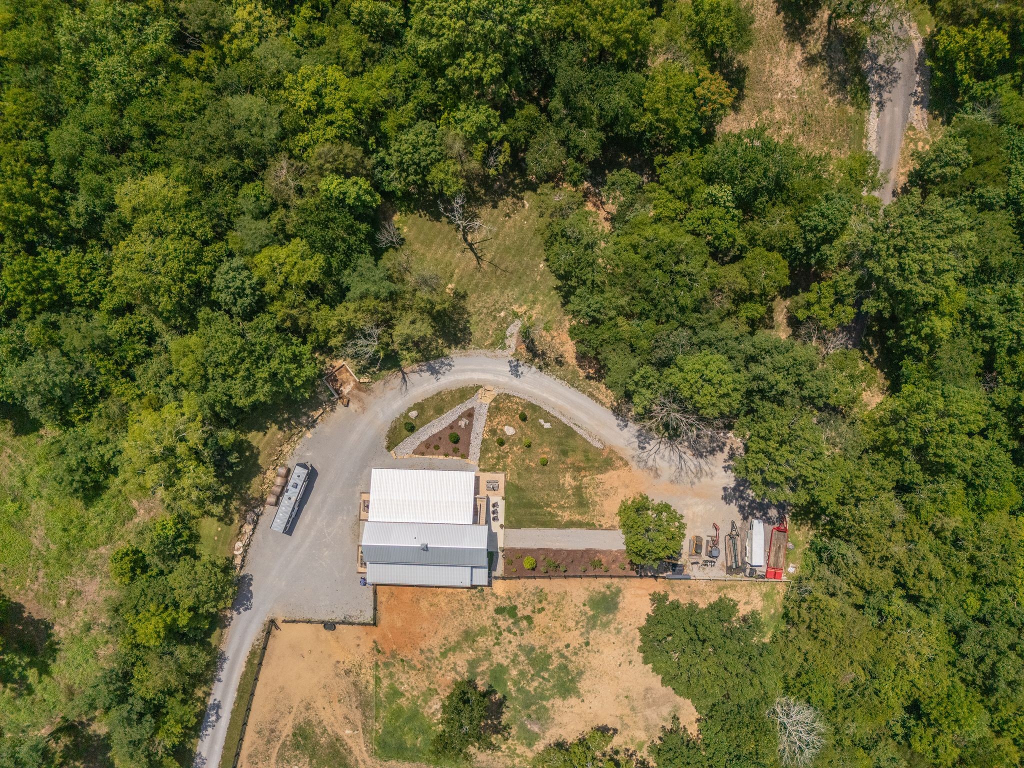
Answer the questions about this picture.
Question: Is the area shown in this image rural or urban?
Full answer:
It looks rural.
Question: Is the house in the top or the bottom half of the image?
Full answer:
It is in the bottom half that the house appears.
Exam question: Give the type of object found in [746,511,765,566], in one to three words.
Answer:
trailer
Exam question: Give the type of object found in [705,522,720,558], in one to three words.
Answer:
work vehicle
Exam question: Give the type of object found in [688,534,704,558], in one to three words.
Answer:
work vehicle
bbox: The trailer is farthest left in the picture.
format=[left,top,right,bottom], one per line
[270,455,314,533]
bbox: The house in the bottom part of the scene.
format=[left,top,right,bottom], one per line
[362,468,488,587]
